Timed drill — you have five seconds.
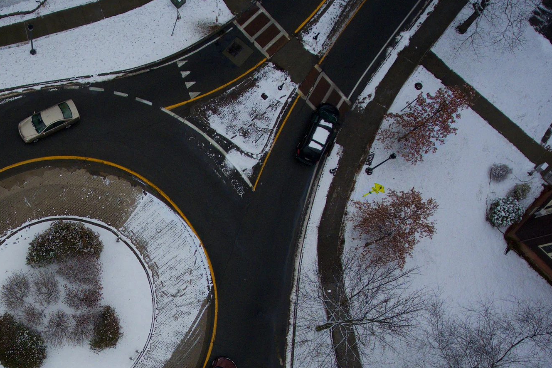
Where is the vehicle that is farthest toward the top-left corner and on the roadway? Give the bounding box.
[19,99,80,141]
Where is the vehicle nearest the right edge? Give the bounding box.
[294,100,340,166]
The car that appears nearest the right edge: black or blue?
black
